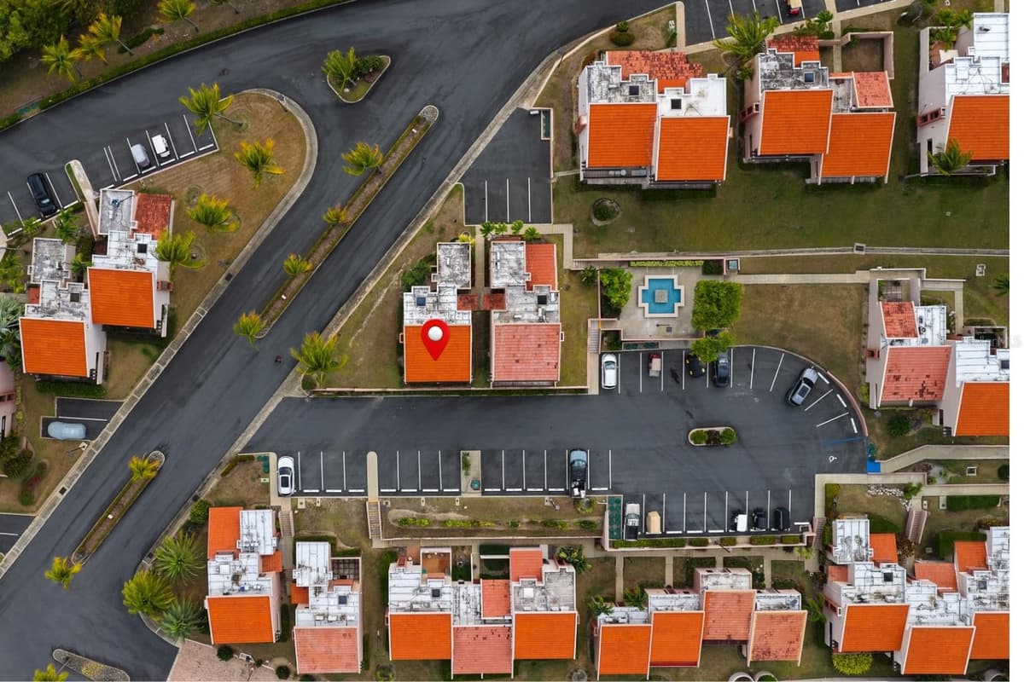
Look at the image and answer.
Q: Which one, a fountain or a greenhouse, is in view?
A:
fountain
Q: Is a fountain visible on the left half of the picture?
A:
No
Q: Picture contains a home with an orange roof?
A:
Yes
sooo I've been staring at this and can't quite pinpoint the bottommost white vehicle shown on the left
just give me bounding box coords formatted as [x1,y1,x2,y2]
[277,456,295,495]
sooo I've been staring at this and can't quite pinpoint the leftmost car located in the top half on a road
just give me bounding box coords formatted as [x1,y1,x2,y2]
[27,175,57,217]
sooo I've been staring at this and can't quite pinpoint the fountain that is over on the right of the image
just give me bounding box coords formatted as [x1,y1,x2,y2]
[637,275,684,317]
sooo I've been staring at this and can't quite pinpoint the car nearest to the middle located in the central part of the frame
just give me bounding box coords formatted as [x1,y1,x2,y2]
[600,354,618,390]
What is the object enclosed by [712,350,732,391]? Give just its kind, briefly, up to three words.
car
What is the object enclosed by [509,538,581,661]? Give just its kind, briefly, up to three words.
house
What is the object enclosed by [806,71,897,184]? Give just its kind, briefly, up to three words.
house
